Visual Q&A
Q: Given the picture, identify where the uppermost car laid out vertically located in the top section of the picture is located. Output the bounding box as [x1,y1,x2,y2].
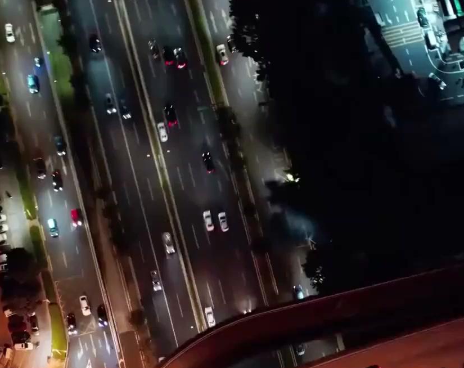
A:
[415,5,428,30]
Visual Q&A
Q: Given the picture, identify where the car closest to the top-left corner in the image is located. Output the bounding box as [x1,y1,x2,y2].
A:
[4,22,17,46]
